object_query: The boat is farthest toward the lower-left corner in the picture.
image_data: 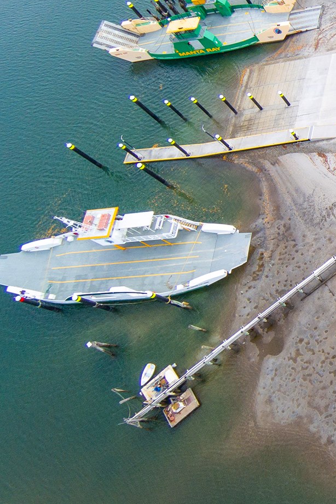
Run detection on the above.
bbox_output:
[137,363,153,390]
